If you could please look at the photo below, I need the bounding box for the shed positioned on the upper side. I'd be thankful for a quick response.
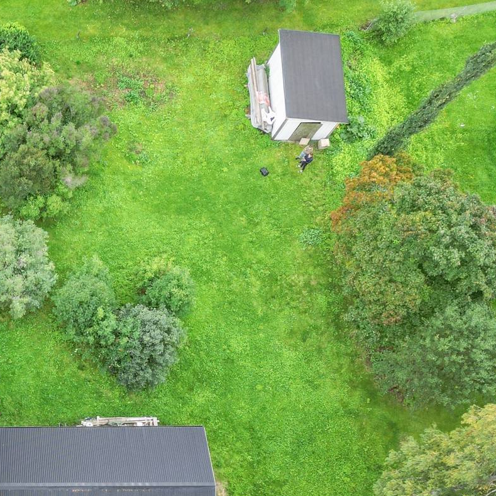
[270,27,352,141]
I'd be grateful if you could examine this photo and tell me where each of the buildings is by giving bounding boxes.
[270,27,352,141]
[0,424,217,496]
